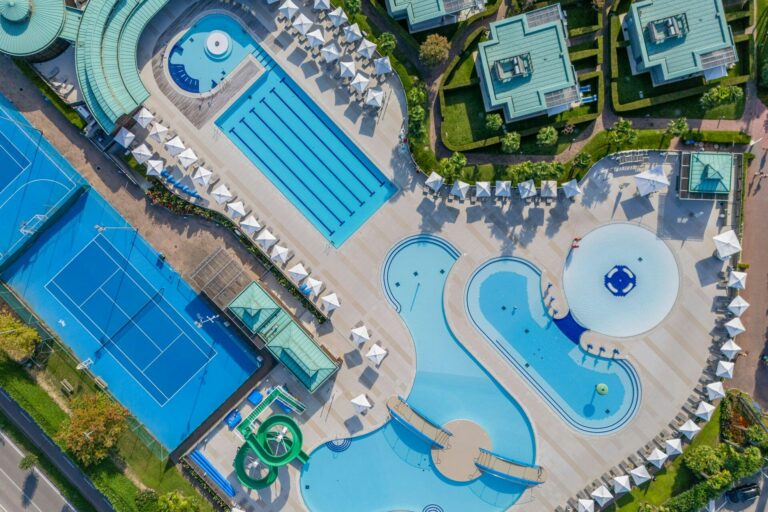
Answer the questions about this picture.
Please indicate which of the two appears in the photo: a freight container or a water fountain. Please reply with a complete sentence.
This aerial view contains a water fountain.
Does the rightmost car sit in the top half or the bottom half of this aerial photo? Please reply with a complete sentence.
It is in the bottom half that the rightmost car appears.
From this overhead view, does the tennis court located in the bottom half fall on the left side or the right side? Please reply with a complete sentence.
The tennis court located in the bottom half is on the left side of the image.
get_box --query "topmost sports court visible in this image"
[0,92,87,282]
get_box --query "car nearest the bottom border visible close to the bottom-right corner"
[724,483,760,504]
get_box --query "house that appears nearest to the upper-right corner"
[616,0,734,90]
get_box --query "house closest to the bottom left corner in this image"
[227,281,338,392]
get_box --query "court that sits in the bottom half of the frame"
[3,184,256,450]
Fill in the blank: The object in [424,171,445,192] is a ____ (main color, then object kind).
white umbrella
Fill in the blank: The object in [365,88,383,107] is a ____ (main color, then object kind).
white umbrella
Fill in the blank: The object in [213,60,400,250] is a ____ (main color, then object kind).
blue swimming pool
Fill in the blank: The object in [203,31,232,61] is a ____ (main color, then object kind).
white fountain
